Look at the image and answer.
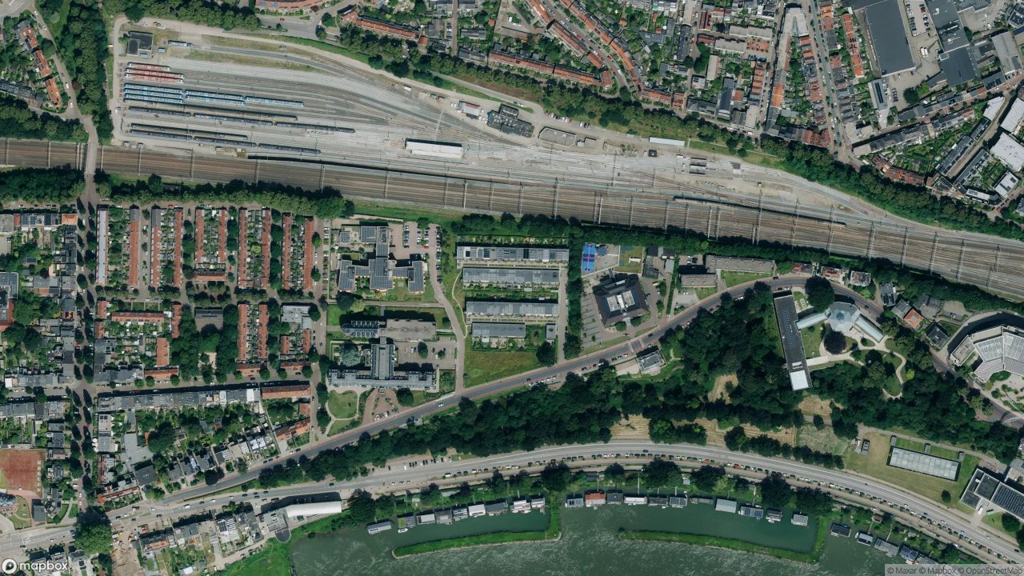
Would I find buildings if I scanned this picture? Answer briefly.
Yes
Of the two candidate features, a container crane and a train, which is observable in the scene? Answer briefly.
train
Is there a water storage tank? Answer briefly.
No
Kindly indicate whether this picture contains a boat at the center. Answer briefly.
No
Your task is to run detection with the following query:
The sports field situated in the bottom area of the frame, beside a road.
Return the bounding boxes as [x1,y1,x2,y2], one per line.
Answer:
[0,448,46,523]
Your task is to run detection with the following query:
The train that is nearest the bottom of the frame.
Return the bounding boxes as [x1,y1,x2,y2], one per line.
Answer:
[675,198,846,227]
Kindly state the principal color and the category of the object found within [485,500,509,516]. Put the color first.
gray boat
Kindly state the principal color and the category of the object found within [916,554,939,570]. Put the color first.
gray boat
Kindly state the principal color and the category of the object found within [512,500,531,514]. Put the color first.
white boat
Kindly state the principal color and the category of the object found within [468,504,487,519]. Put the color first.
white boat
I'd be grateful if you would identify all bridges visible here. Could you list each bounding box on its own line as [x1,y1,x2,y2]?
[85,114,97,189]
